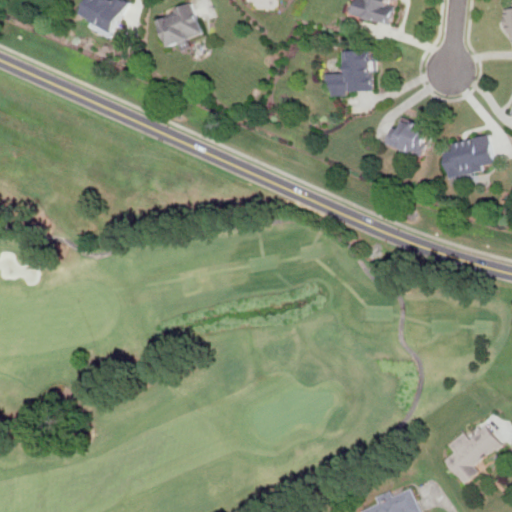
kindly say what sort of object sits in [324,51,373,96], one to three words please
house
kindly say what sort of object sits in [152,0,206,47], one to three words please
house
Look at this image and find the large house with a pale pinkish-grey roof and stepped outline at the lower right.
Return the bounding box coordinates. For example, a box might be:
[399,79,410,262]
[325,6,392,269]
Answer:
[444,424,502,486]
